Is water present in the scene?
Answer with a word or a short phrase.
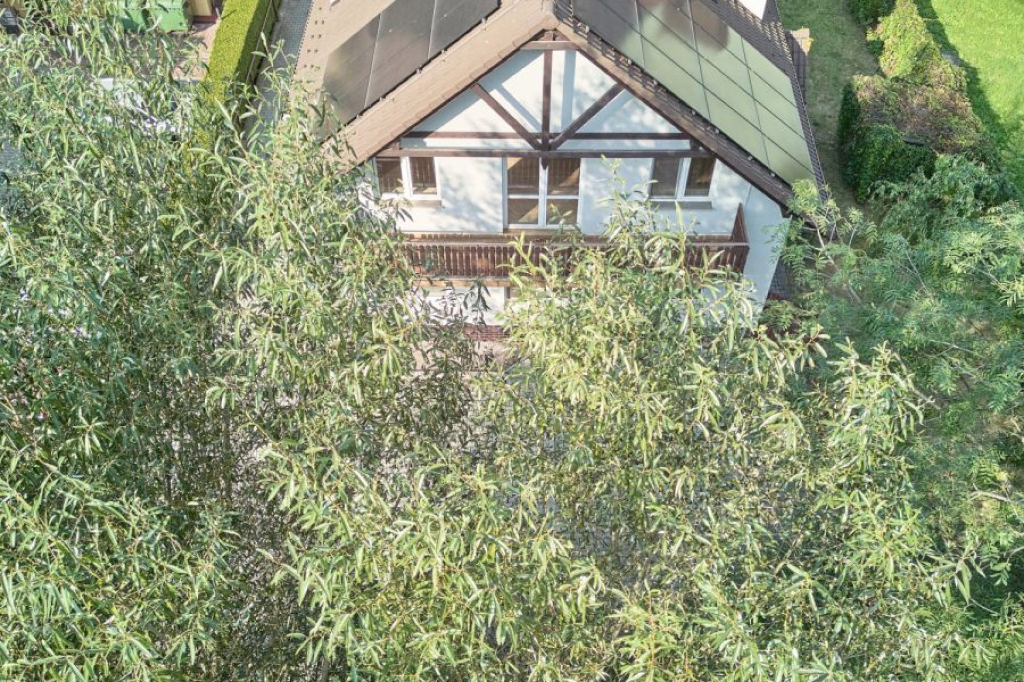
No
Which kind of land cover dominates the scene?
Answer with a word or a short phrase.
trees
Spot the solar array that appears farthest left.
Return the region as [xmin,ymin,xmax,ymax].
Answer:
[306,0,494,143]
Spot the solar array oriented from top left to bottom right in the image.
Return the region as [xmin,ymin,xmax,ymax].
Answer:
[577,0,829,205]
